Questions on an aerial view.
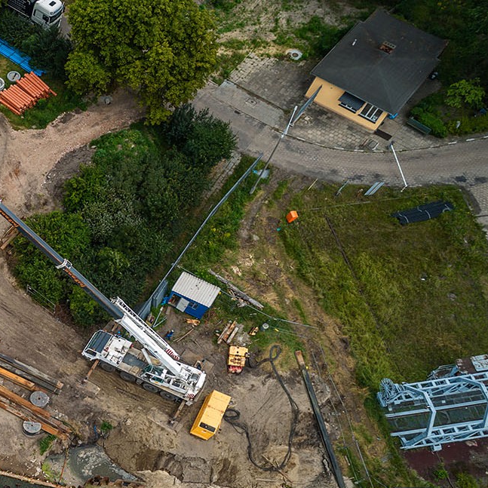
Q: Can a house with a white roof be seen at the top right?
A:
No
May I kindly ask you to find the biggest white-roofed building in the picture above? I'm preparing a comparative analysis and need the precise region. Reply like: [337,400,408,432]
[169,272,220,321]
